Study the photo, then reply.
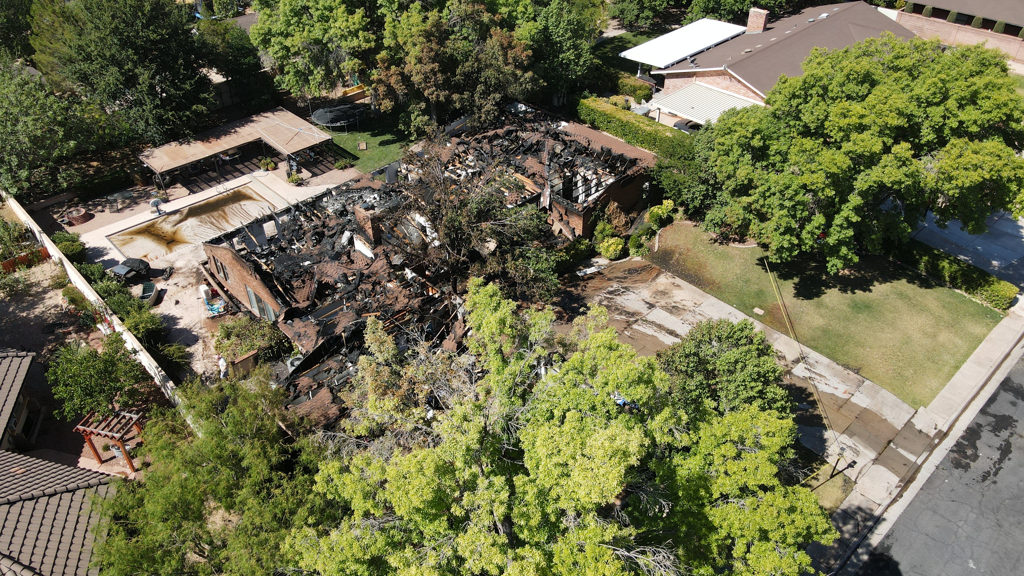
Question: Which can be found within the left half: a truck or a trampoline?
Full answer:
The one visible within the left half is a trampoline.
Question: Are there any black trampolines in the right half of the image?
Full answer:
No, I can find no black trampoline in the right half of the image.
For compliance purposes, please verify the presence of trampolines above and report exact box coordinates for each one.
[307,84,368,137]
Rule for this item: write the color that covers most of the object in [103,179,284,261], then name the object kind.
white swimming pool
